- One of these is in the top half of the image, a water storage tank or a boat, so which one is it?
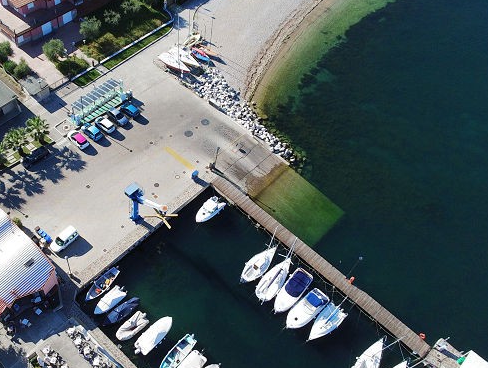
boat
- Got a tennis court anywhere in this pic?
No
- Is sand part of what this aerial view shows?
Yes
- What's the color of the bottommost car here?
white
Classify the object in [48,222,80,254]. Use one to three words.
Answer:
car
